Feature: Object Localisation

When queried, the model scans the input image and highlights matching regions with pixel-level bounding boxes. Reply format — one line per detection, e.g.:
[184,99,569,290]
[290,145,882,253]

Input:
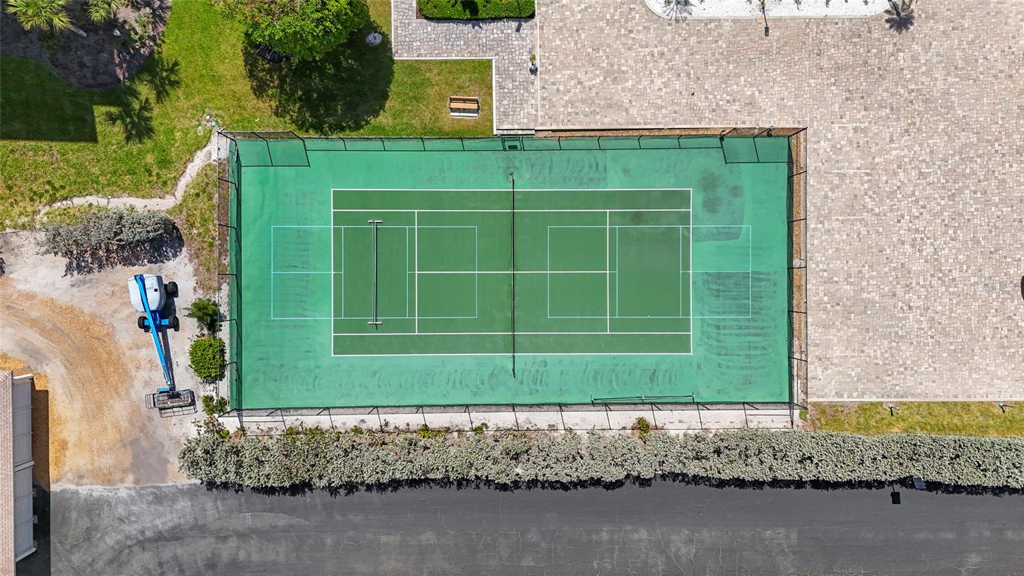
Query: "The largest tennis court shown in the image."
[229,137,793,411]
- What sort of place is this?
sports ground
